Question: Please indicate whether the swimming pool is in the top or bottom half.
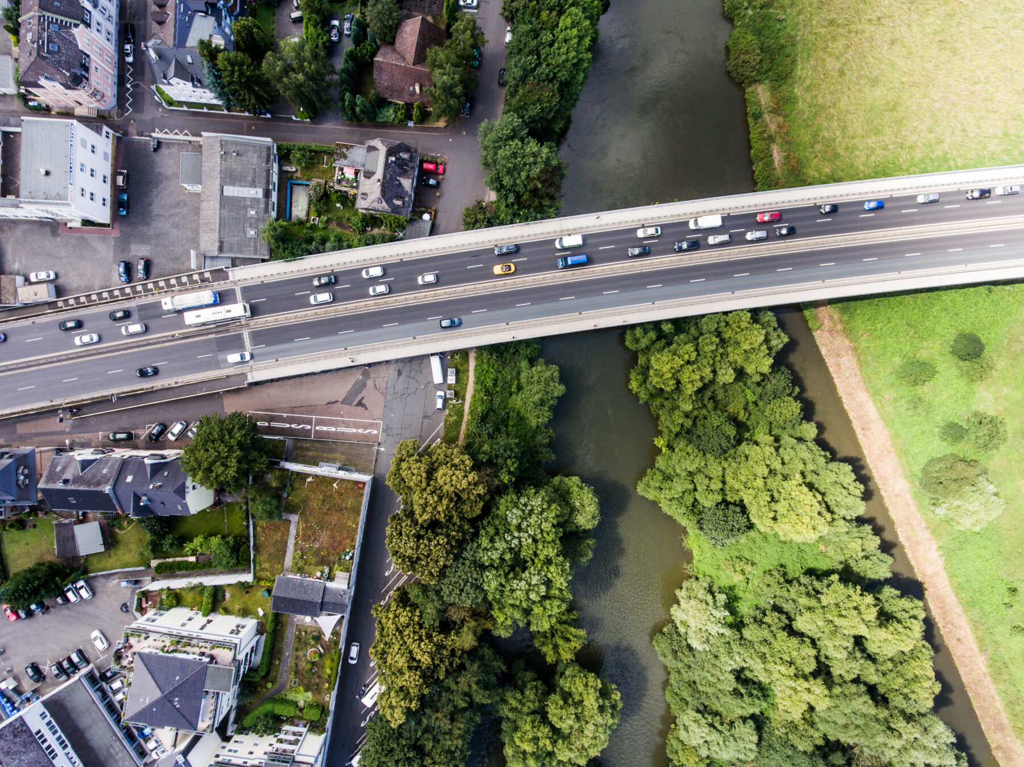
top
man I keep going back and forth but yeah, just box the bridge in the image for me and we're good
[228,162,1024,383]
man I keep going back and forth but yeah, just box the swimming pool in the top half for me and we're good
[286,179,310,222]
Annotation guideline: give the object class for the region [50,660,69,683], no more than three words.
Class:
car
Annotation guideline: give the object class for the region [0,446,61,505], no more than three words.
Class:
house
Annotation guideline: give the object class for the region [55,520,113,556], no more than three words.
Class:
shed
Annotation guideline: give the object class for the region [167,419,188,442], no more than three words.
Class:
car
